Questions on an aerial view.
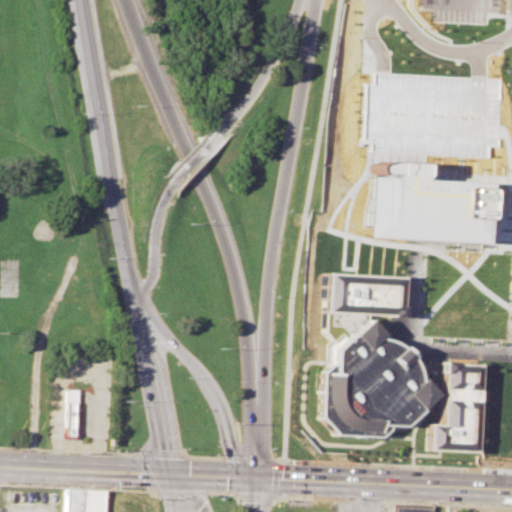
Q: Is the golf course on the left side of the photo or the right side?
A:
left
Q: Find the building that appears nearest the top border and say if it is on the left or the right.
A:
right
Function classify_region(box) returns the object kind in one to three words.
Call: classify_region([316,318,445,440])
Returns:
building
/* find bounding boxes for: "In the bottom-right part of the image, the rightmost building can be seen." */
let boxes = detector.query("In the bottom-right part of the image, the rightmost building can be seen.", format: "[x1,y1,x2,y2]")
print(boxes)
[426,362,486,450]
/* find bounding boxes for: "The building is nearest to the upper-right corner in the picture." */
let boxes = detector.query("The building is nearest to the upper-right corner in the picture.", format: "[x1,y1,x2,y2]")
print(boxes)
[360,163,512,245]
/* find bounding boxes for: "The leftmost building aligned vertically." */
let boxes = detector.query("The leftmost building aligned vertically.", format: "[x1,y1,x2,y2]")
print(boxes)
[64,389,81,438]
